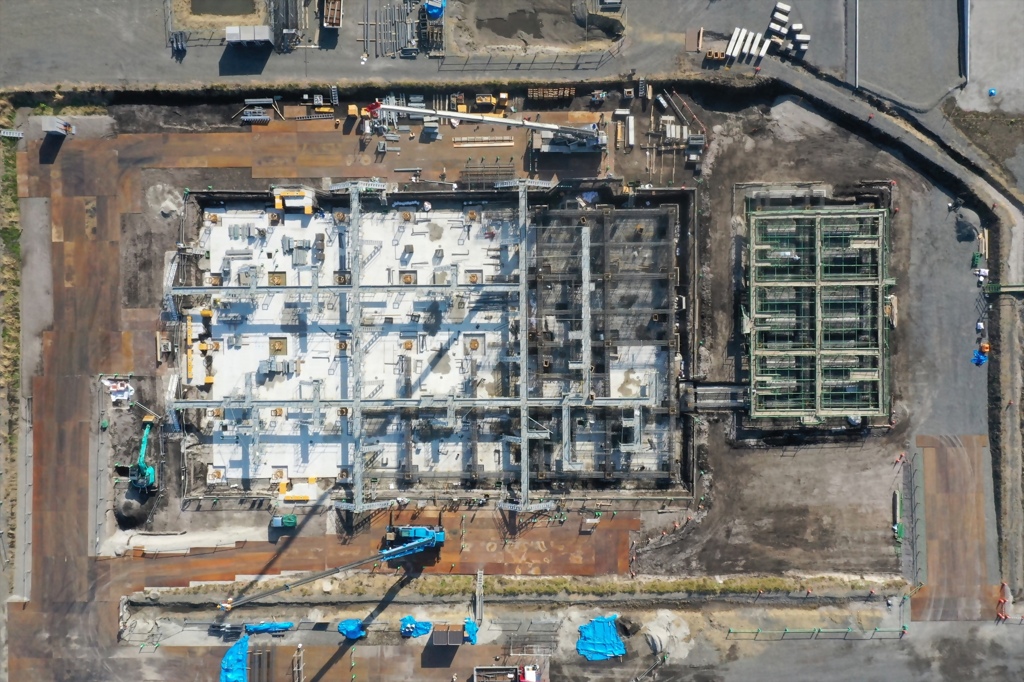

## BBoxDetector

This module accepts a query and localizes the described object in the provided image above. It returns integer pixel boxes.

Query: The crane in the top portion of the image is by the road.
[366,99,607,173]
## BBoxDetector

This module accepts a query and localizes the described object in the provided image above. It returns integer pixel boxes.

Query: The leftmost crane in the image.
[218,505,445,611]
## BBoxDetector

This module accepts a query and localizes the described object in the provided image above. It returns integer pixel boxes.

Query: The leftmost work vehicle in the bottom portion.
[131,413,156,491]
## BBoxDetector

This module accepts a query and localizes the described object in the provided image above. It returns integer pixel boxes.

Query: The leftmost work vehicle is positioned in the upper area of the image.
[64,121,80,138]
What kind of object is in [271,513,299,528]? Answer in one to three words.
vehicle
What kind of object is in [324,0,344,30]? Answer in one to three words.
vehicle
